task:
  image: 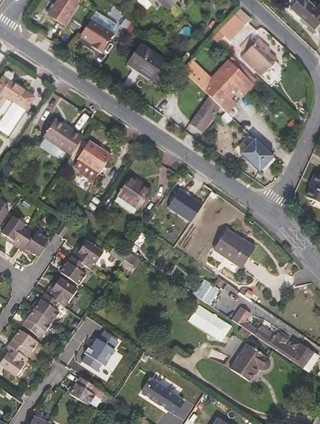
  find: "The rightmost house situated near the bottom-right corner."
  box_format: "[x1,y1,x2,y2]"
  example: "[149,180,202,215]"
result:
[282,342,319,372]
